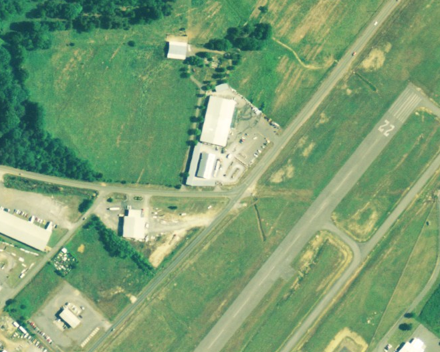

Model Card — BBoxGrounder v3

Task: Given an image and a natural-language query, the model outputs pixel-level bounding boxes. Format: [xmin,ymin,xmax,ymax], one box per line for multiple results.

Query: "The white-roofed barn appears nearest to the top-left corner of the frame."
[167,41,187,60]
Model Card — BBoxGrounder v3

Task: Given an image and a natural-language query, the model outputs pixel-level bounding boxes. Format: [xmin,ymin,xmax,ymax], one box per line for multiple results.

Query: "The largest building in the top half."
[200,95,238,147]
